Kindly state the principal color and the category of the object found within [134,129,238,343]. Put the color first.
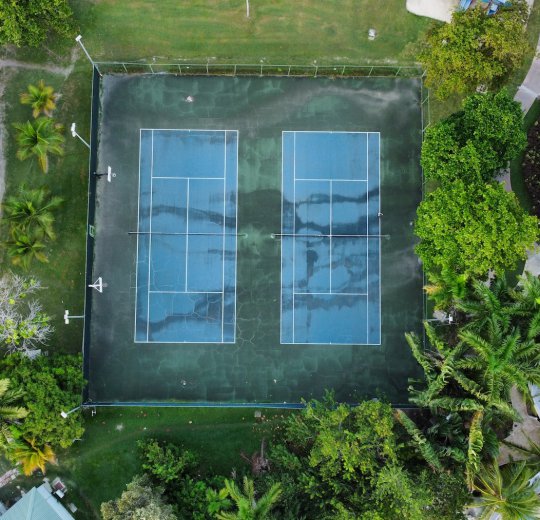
blue tennis court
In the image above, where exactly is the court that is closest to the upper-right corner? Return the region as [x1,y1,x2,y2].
[281,131,380,344]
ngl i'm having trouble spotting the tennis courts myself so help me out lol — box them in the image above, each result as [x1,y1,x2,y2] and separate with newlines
[281,131,380,344]
[134,129,238,343]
